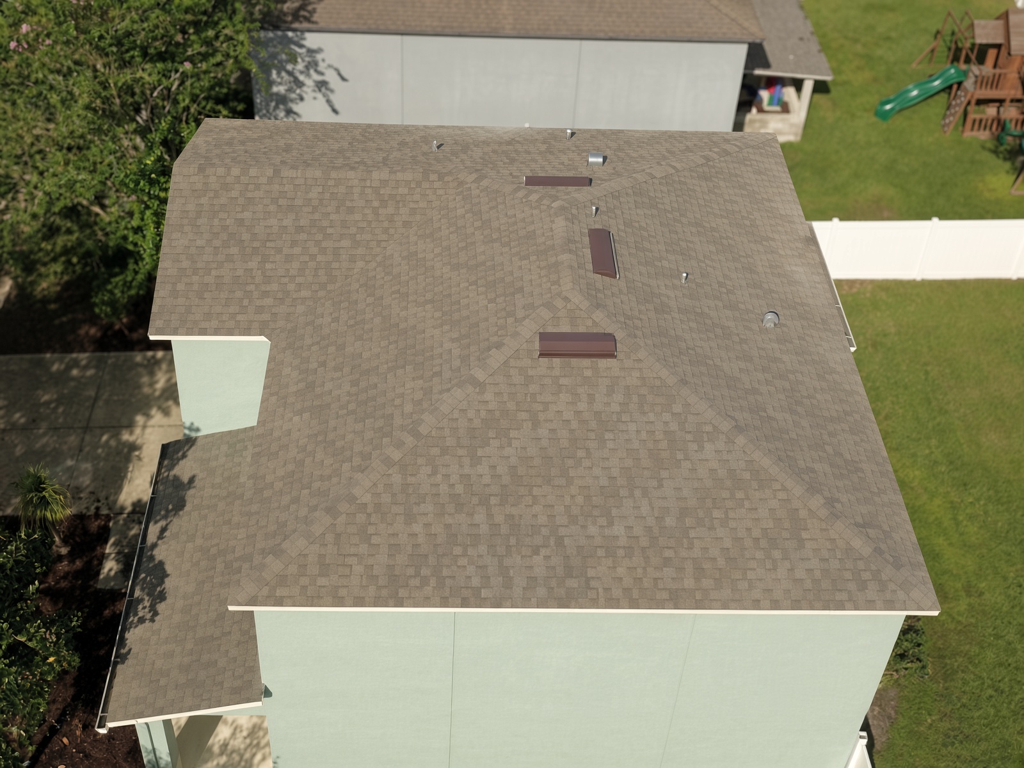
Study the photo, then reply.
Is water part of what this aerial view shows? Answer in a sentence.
No, no water is visible.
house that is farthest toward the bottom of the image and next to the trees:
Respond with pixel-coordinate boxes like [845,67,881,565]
[93,116,940,768]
